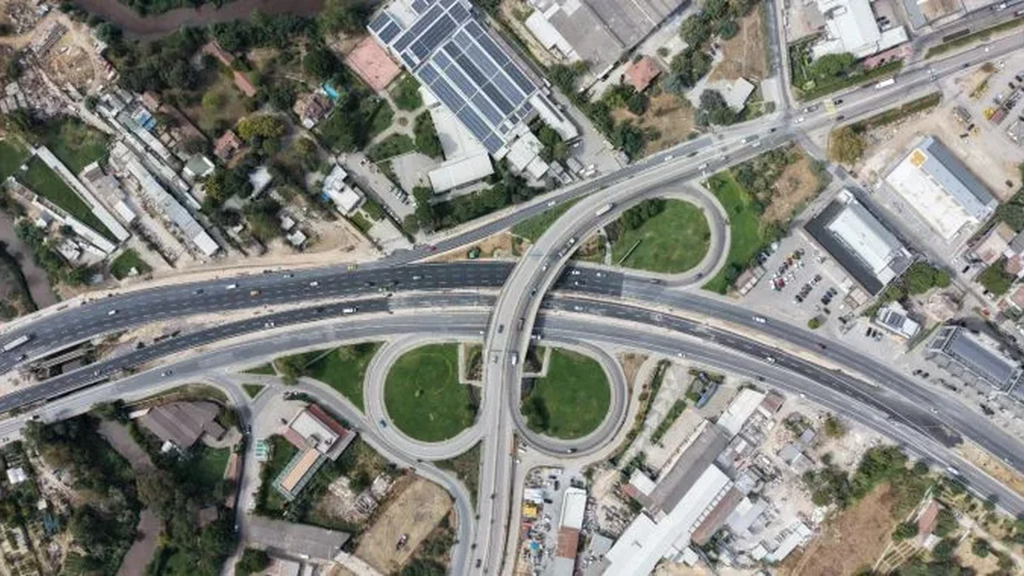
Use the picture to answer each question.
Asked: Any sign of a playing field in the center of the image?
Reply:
No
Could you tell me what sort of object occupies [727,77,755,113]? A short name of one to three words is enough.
shed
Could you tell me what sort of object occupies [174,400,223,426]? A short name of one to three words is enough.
house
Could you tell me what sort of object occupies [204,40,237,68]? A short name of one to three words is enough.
house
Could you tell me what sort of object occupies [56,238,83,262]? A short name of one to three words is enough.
building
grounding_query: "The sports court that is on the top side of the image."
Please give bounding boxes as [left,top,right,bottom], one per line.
[347,37,400,89]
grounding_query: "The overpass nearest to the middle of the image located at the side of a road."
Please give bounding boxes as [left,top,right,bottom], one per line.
[467,112,797,576]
